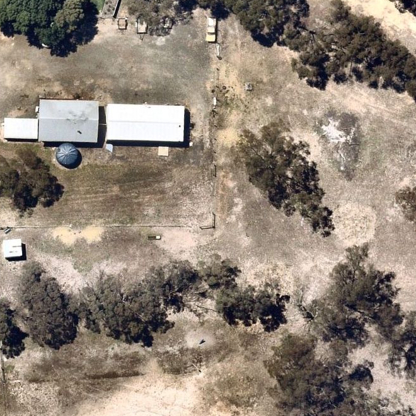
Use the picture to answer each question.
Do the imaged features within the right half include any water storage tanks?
No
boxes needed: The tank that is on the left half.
[56,142,80,168]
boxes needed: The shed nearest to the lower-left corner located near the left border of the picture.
[2,239,21,258]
